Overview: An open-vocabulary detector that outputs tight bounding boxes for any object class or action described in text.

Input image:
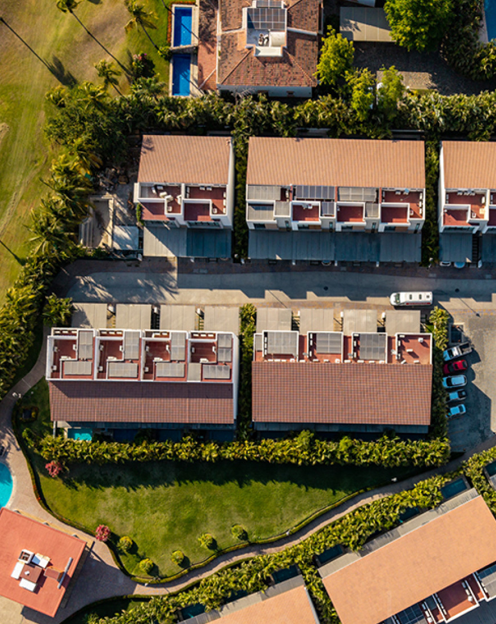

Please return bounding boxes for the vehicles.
[453,262,464,267]
[440,241,451,267]
[442,359,468,374]
[442,375,467,387]
[392,292,432,306]
[448,388,471,402]
[443,342,472,358]
[444,403,469,418]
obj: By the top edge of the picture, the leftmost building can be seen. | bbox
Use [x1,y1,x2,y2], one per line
[216,0,320,102]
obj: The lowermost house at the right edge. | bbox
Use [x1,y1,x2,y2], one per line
[319,488,496,624]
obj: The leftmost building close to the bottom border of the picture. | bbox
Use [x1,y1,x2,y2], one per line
[0,507,92,616]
